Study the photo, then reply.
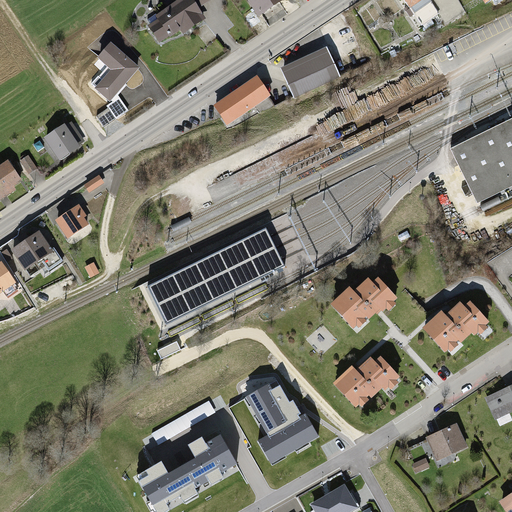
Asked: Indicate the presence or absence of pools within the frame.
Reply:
No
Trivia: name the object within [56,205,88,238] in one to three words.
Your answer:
house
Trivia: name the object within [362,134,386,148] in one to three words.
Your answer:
rail car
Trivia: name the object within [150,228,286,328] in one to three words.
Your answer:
building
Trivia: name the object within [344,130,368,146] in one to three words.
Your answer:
rail car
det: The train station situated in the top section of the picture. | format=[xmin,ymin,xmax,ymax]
[166,135,402,258]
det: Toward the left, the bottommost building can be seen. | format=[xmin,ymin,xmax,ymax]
[133,436,238,512]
